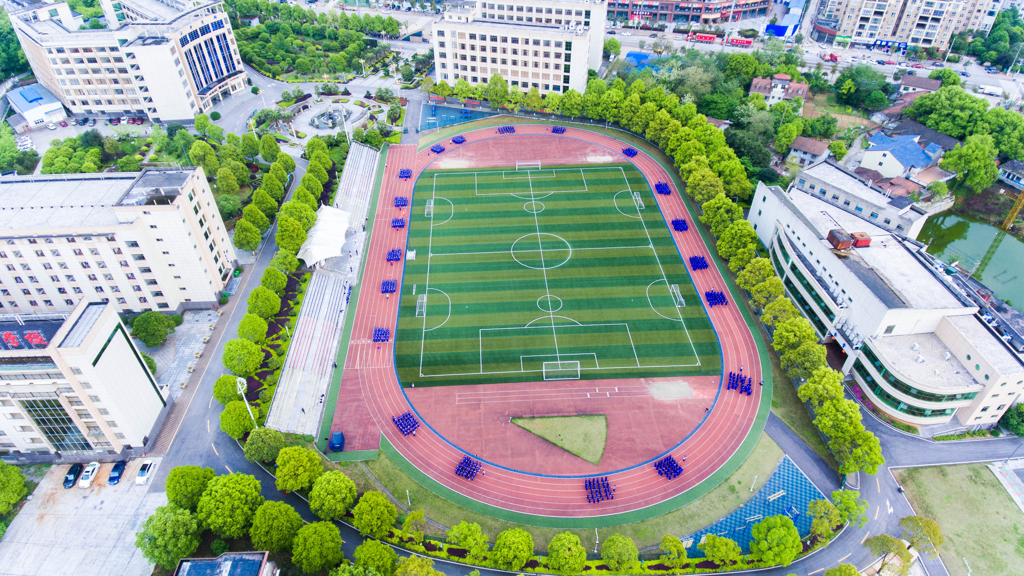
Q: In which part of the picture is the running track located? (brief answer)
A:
center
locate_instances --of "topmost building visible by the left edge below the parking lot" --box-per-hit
[0,166,244,322]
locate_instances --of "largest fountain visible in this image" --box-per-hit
[308,106,354,129]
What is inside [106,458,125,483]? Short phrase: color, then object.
blue car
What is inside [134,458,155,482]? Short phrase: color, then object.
white car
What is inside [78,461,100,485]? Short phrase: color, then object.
white car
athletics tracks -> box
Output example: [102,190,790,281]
[319,122,772,530]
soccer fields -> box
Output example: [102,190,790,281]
[398,163,719,389]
